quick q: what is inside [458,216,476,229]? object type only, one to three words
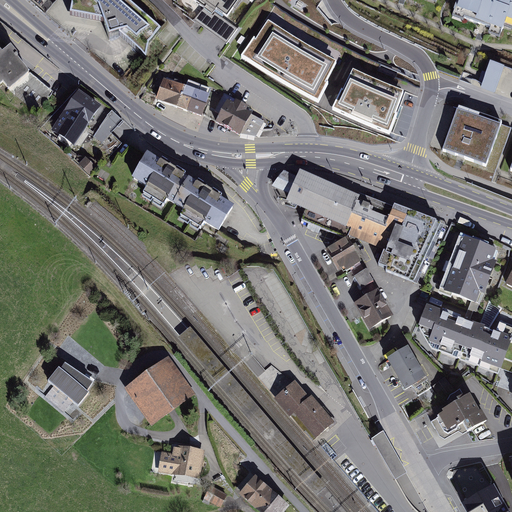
vehicle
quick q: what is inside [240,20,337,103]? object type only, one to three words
building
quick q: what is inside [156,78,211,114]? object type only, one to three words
house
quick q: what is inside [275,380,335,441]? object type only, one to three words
train station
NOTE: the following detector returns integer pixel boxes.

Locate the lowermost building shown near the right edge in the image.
[446,458,510,512]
